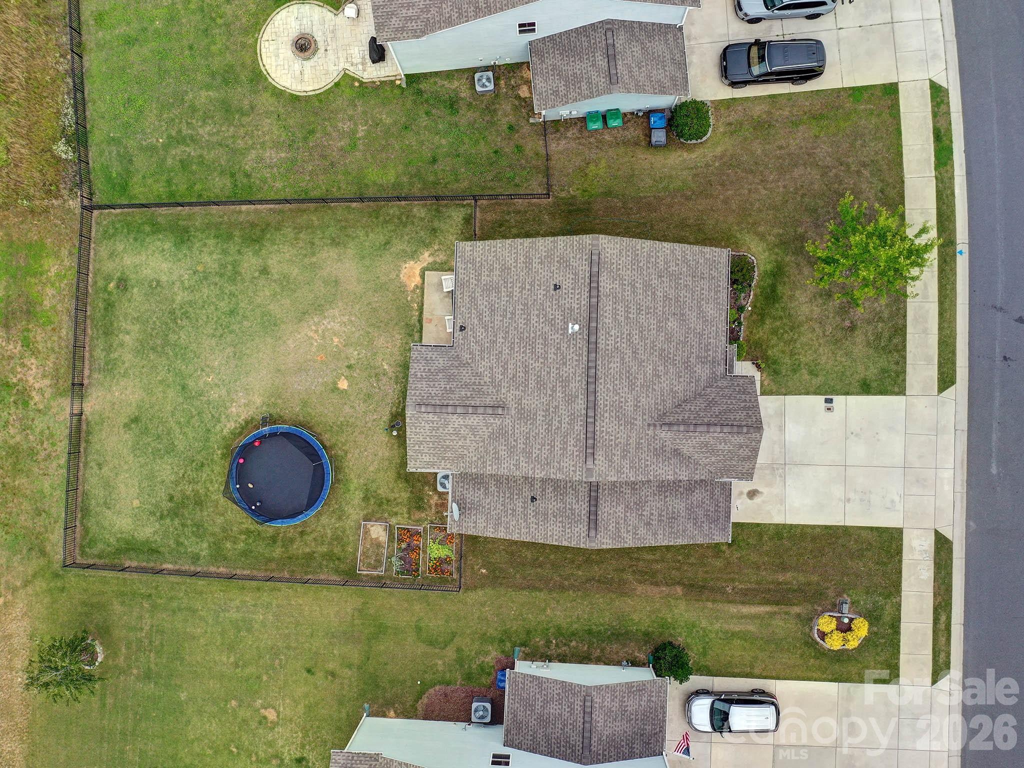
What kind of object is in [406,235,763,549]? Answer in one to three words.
house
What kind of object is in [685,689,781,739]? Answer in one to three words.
car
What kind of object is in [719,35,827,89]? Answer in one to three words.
car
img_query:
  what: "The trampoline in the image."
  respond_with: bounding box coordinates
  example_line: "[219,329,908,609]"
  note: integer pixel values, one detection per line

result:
[221,423,336,527]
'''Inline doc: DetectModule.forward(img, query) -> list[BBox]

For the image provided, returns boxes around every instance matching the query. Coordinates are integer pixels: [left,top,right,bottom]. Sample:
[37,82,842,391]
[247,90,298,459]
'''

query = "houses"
[328,654,675,768]
[370,0,698,127]
[406,235,763,549]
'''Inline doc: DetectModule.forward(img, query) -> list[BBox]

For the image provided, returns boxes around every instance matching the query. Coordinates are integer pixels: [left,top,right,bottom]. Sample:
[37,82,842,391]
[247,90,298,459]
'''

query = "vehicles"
[719,35,827,89]
[734,0,841,24]
[685,689,781,739]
